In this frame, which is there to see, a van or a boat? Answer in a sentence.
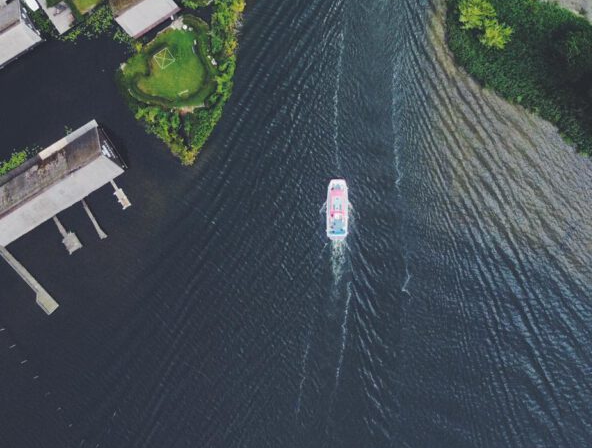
Visible in the photo is a boat.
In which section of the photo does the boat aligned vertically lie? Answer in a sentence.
The boat aligned vertically appears toward the center of the photo.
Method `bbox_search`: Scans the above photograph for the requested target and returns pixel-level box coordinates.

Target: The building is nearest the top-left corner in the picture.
[0,0,46,67]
